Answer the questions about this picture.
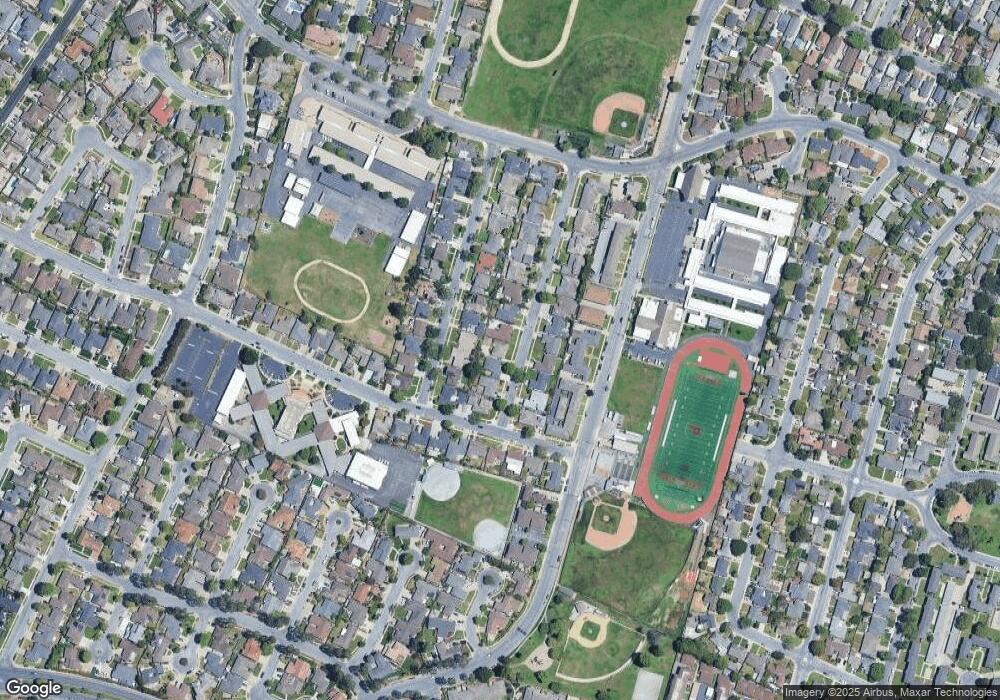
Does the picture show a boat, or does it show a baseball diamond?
baseball diamond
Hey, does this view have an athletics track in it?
Yes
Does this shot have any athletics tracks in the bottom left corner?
No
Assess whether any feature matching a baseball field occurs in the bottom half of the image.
Yes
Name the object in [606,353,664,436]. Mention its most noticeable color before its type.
green sports field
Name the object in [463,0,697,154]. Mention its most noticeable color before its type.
green sports field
